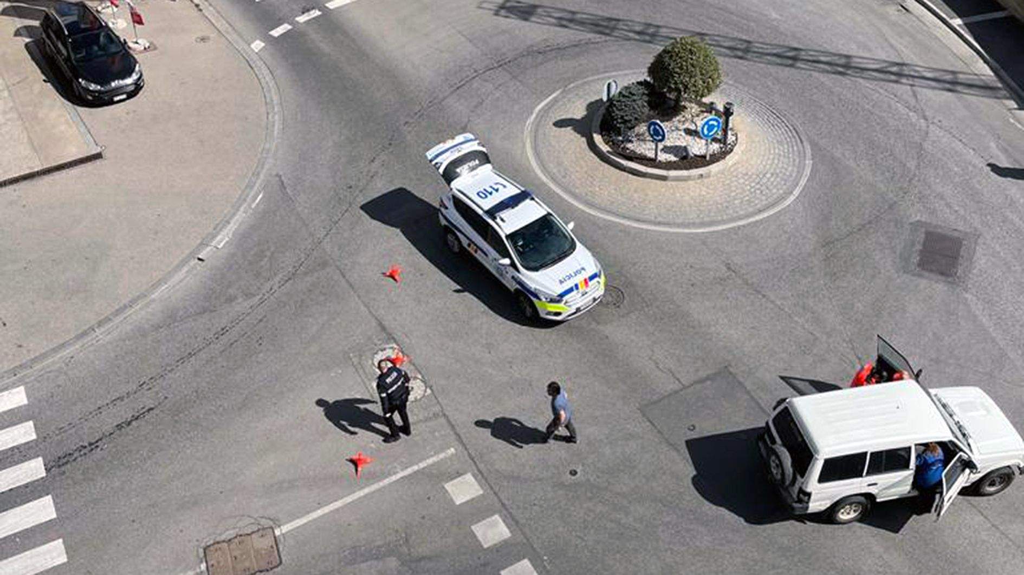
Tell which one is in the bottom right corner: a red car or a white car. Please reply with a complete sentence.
The feature located in the bottom right corner is a white car.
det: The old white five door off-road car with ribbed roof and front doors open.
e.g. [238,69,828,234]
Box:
[765,337,1024,523]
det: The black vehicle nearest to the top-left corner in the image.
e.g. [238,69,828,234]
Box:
[37,0,151,109]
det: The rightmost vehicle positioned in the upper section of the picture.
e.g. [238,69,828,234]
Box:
[423,130,607,327]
